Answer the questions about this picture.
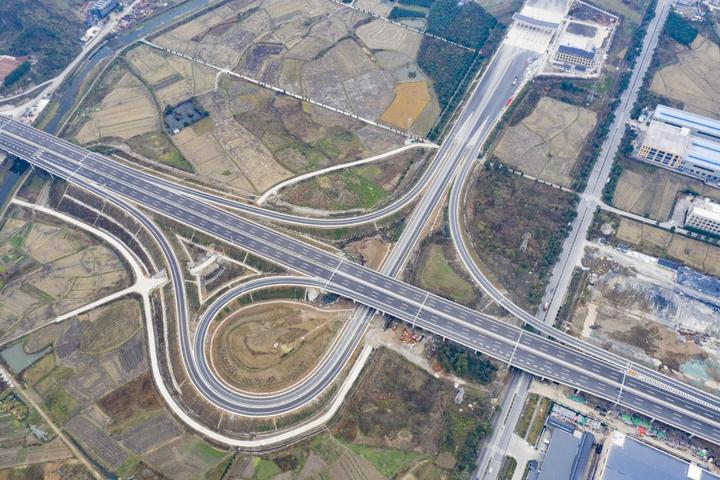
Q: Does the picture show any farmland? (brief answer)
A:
Yes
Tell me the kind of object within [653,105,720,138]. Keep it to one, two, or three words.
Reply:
shed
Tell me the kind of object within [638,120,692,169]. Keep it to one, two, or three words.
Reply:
building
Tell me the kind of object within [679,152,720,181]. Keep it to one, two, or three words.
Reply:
shed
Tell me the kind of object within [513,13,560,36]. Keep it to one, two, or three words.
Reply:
toll station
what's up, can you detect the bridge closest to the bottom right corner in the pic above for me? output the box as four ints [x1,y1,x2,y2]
[323,256,720,448]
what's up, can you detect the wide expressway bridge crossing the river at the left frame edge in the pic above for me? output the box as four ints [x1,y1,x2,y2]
[0,115,98,181]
